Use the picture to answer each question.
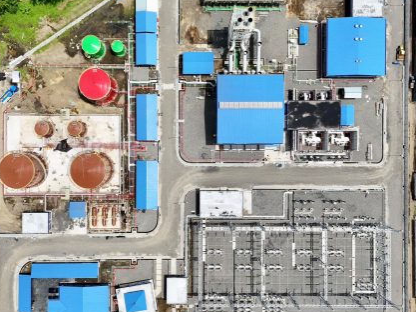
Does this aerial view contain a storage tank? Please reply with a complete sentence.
Yes, the image includes a storage tank.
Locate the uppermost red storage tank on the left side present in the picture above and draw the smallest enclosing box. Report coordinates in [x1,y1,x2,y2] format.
[78,68,118,105]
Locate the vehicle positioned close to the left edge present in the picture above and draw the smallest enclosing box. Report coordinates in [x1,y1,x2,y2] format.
[0,83,17,102]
